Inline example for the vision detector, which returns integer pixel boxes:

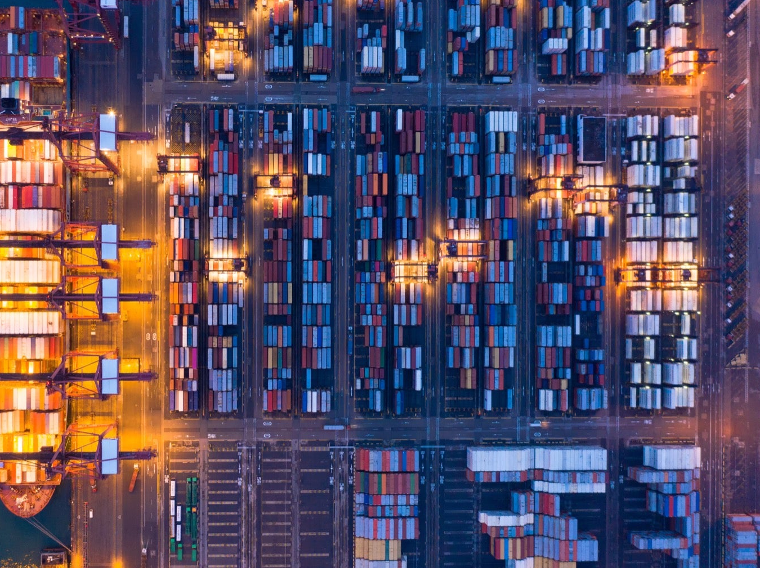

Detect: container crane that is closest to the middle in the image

[387,260,439,283]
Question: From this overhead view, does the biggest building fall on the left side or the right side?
right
